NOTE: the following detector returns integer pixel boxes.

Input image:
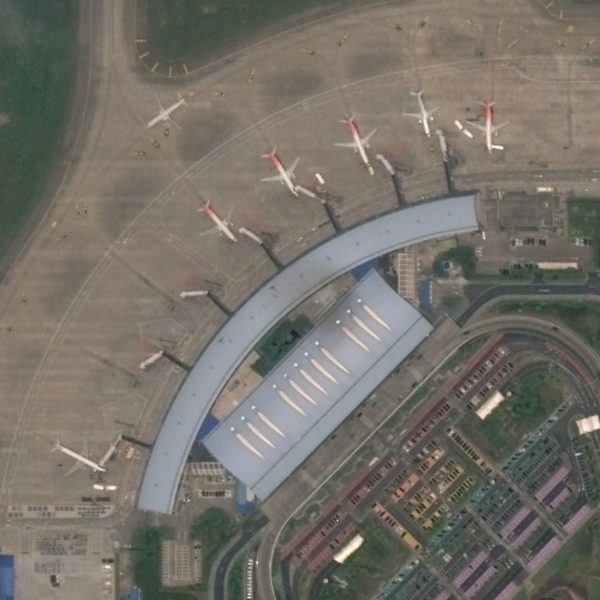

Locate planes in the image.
[148,91,189,128]
[51,433,106,480]
[198,199,238,243]
[404,92,442,138]
[262,148,302,197]
[468,103,510,153]
[338,116,378,165]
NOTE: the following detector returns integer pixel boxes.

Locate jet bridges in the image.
[240,227,284,272]
[436,129,455,195]
[179,289,231,318]
[376,154,405,210]
[99,435,154,468]
[140,350,189,371]
[296,185,343,236]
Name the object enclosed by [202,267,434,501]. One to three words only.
building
